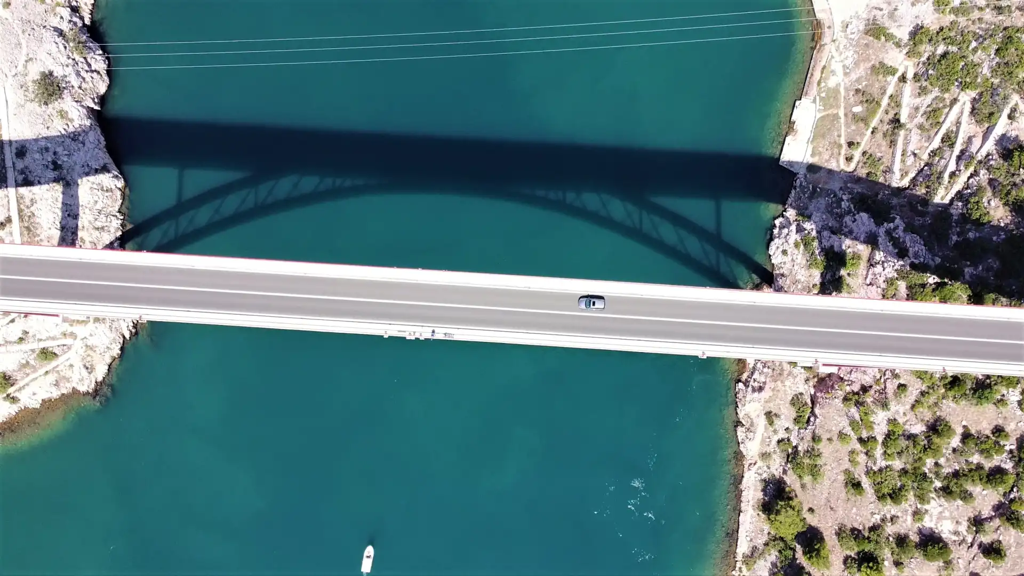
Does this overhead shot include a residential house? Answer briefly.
No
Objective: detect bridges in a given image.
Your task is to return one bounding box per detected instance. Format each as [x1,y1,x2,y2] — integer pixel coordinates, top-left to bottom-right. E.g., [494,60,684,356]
[0,242,1024,379]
